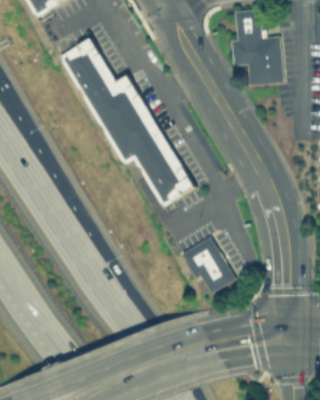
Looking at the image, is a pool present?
No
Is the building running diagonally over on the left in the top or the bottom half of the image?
top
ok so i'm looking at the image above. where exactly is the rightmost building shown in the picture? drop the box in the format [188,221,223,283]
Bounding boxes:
[232,10,283,85]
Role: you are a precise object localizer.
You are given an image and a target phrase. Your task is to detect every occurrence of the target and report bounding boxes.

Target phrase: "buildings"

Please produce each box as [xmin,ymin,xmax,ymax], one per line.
[25,0,63,17]
[184,236,236,292]
[232,10,283,85]
[62,38,193,208]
